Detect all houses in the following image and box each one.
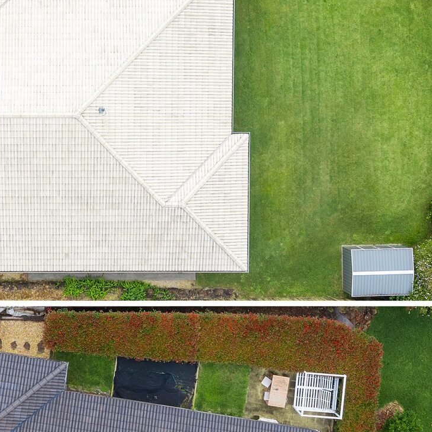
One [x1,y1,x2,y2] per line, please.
[0,351,316,432]
[0,0,251,274]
